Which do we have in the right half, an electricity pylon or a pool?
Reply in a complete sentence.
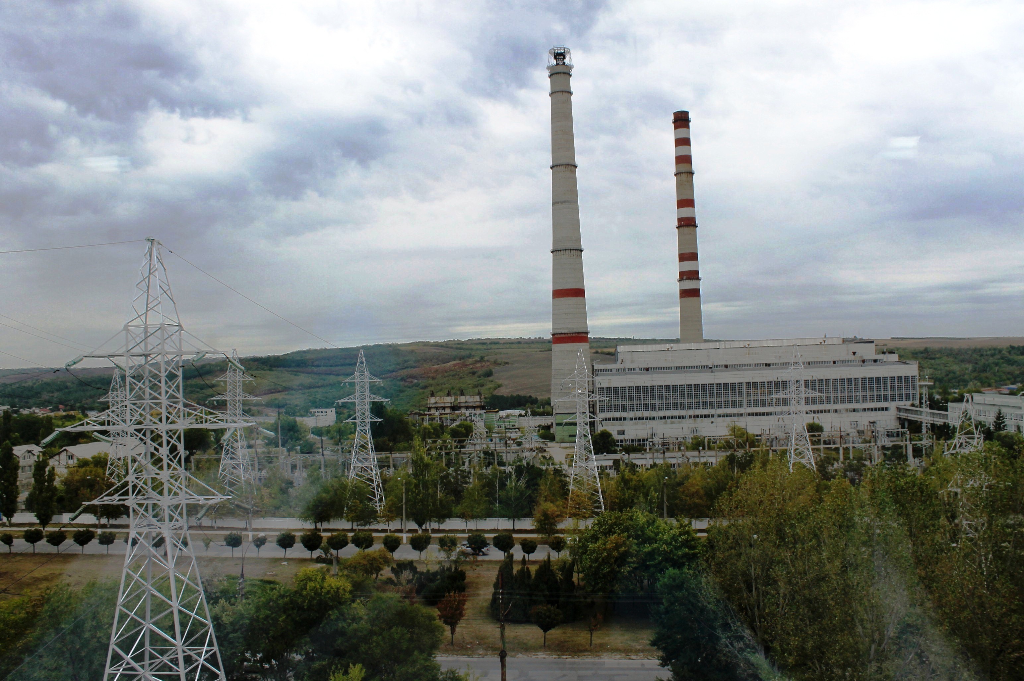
The one visible in the right half is an electricity pylon.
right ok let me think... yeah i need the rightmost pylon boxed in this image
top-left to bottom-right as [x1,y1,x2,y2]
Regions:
[932,394,1012,493]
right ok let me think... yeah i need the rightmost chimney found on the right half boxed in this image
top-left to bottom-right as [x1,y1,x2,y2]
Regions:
[673,109,703,343]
